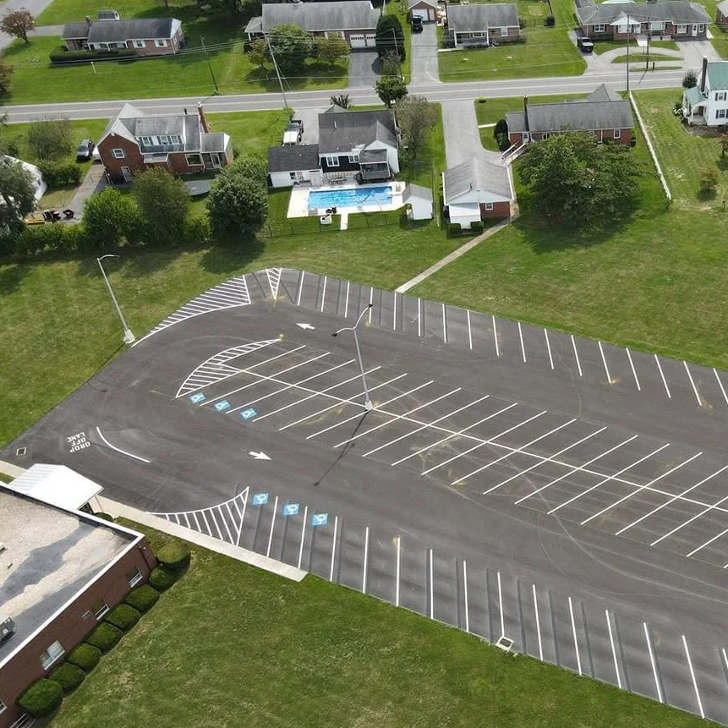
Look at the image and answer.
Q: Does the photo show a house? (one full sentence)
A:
Yes, you can see a house in this photo.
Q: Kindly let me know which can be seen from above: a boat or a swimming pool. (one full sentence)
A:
There is a swimming pool in the scene.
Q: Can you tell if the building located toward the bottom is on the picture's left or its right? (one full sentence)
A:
The building located toward the bottom is on the left side of the image.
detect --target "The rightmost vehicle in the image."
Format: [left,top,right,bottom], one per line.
[578,34,594,50]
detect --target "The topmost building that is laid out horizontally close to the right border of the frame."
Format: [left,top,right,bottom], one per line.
[580,0,710,40]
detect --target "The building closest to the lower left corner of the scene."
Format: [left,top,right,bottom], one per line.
[0,476,156,718]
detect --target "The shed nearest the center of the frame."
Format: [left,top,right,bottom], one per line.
[406,182,437,220]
